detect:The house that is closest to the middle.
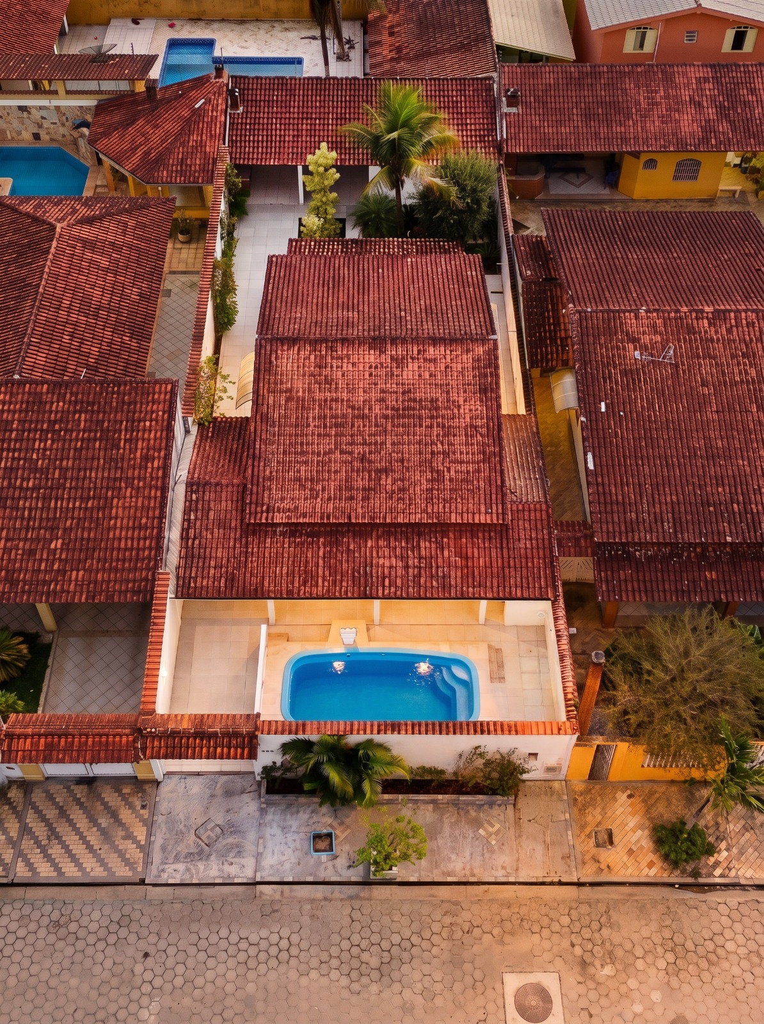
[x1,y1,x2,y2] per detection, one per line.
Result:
[176,236,557,623]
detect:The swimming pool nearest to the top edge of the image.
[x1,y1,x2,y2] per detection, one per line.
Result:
[160,38,304,101]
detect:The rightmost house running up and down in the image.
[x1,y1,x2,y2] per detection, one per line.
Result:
[542,206,764,636]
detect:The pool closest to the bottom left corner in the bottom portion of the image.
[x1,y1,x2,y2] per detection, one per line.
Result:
[281,647,481,728]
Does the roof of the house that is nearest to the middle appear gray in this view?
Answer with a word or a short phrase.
No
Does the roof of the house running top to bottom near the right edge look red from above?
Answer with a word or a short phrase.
Yes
